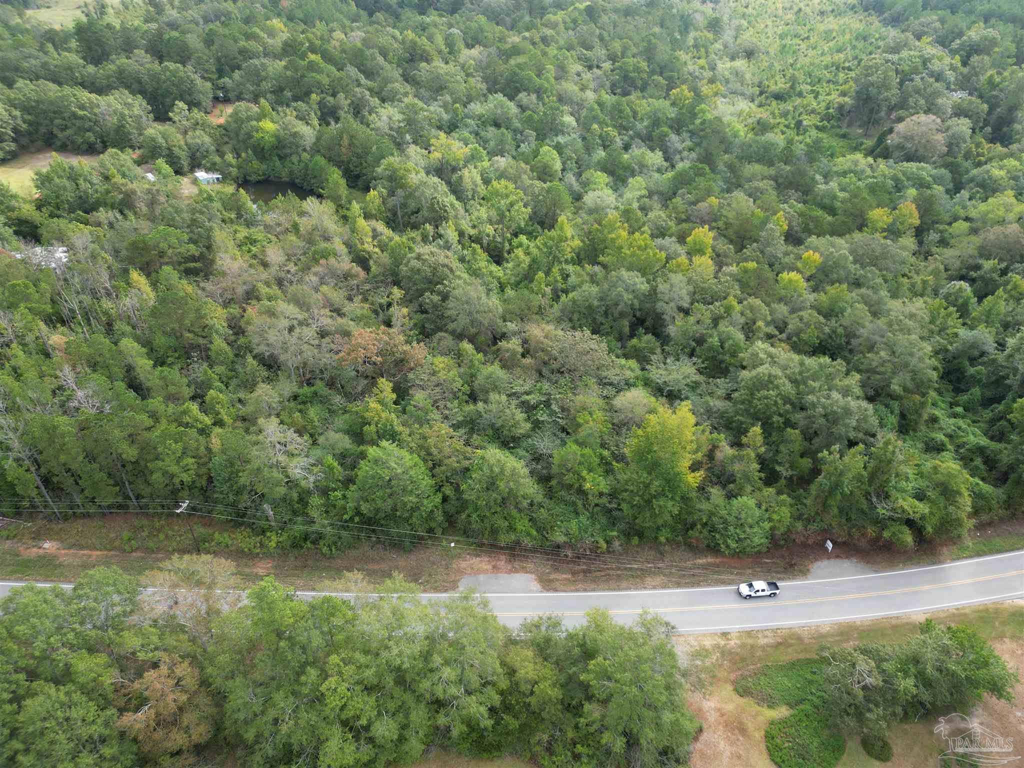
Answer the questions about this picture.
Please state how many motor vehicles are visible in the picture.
1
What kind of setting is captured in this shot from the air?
forest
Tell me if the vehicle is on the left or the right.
right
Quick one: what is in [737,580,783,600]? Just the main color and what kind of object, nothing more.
white vehicle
